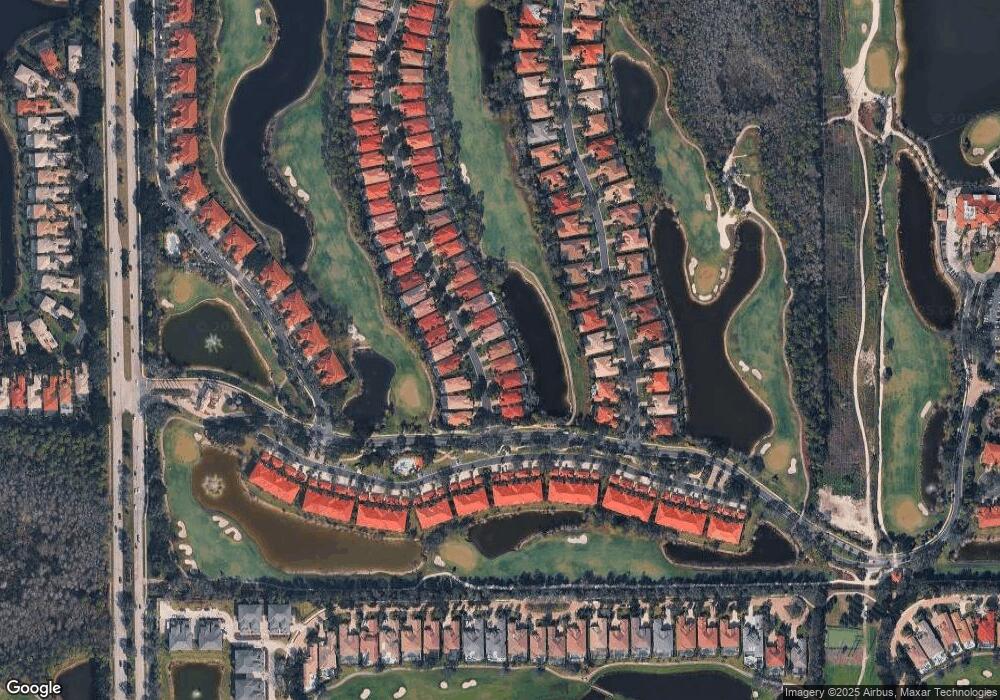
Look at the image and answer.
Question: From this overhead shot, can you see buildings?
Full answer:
Yes, a building can be made out from above.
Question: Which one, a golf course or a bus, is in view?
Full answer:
It is a golf course that can be seen here.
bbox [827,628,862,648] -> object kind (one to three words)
sports court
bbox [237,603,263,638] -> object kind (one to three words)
building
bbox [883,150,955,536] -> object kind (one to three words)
golf course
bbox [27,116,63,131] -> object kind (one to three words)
house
